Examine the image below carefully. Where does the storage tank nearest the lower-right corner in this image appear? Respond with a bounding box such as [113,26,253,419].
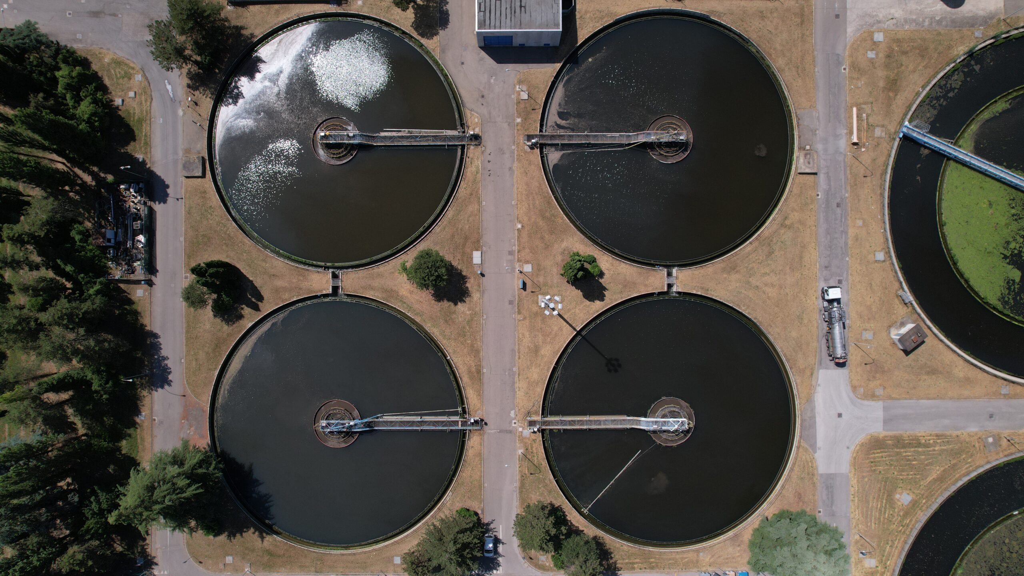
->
[541,291,802,552]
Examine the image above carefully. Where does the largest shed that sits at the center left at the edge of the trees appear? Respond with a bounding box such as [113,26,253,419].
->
[91,229,119,246]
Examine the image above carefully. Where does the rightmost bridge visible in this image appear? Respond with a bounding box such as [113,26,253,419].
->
[896,118,1024,190]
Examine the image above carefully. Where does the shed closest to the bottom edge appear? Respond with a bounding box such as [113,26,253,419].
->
[890,323,929,353]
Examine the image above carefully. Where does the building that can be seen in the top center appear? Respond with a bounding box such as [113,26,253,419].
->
[475,0,562,49]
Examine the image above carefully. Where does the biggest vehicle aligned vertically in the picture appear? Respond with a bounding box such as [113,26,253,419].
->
[820,285,847,362]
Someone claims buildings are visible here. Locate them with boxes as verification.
[91,229,119,246]
[890,323,929,353]
[475,0,562,49]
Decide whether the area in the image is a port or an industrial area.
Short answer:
industrial area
